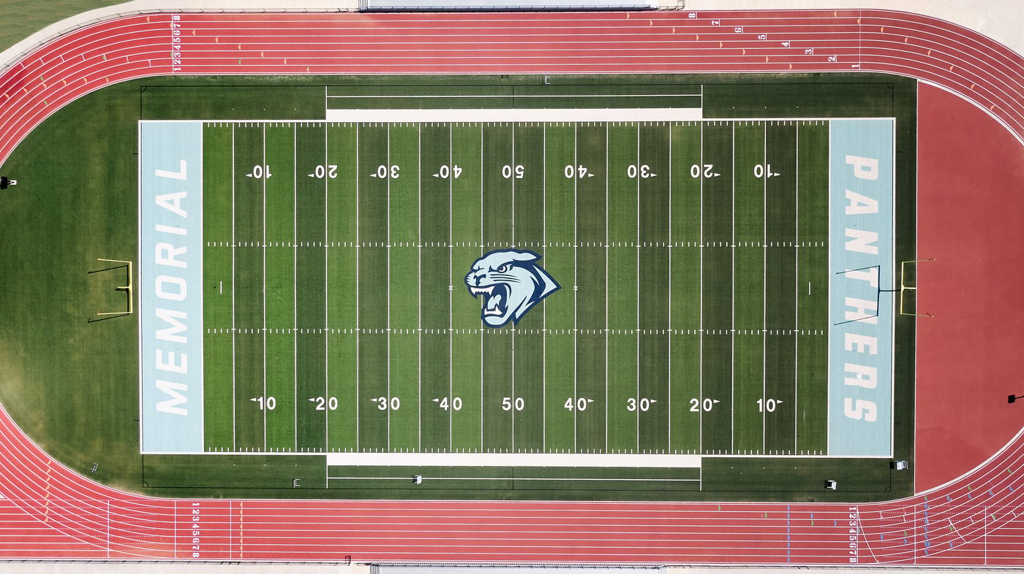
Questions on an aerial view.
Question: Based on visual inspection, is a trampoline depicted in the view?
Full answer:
No, there is no trampoline in the image.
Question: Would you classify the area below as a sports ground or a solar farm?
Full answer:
The area seen from above is a sports ground.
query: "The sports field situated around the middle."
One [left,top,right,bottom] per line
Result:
[134,82,900,493]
